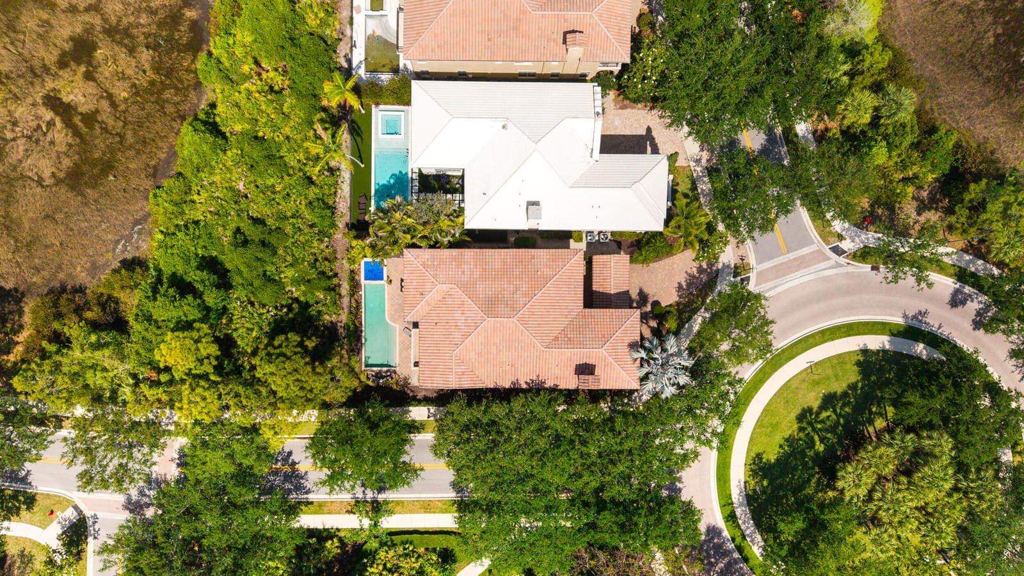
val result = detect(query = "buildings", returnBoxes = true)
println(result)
[403,0,632,79]
[402,248,641,391]
[410,79,675,231]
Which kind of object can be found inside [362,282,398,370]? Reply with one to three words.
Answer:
swimming pool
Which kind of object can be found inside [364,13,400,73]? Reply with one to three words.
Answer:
swimming pool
